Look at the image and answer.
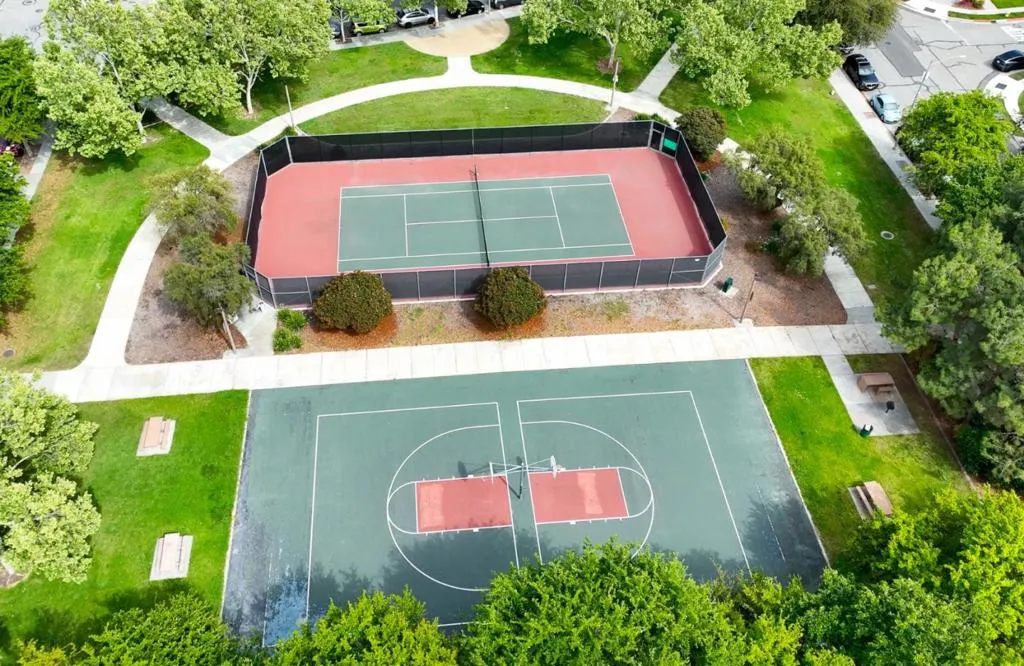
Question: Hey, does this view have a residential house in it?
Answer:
No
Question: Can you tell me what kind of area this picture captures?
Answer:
sports ground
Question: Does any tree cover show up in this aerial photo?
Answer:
Yes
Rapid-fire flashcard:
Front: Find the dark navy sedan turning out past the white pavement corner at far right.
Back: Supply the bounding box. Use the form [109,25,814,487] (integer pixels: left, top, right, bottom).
[990,47,1024,68]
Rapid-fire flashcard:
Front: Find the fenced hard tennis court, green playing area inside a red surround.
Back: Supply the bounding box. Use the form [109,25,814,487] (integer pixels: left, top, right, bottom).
[246,147,722,314]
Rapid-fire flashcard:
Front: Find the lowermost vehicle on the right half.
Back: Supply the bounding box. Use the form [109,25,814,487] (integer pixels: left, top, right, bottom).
[868,94,900,121]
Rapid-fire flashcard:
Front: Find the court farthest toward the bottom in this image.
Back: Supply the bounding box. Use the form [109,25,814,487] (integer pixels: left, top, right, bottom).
[217,359,859,666]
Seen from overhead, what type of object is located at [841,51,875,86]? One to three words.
car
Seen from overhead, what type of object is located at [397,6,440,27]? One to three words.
car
